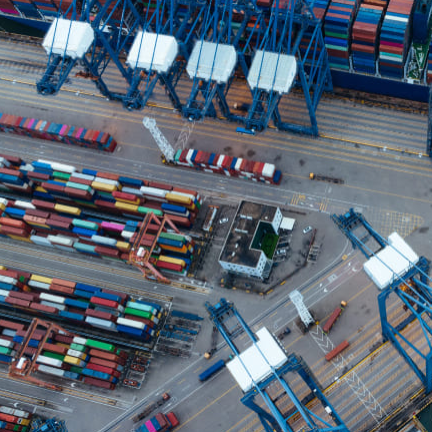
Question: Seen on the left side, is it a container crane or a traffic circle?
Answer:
container crane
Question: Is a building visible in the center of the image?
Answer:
Yes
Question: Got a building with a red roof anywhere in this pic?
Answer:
No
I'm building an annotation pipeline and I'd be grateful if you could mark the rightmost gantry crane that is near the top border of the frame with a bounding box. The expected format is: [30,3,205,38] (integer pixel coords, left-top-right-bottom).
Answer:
[242,0,332,137]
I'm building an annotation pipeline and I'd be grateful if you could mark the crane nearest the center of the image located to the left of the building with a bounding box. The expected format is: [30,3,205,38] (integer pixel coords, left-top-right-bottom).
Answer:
[127,210,191,280]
